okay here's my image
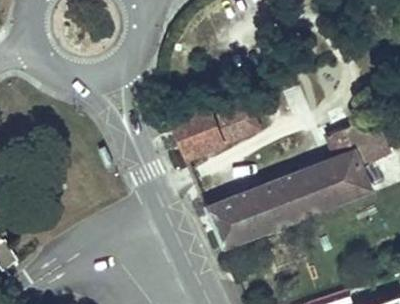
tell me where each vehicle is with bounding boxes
[222,0,235,18]
[130,113,142,133]
[72,80,90,98]
[368,164,382,184]
[234,164,258,178]
[96,144,115,169]
[94,258,114,268]
[236,0,246,10]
